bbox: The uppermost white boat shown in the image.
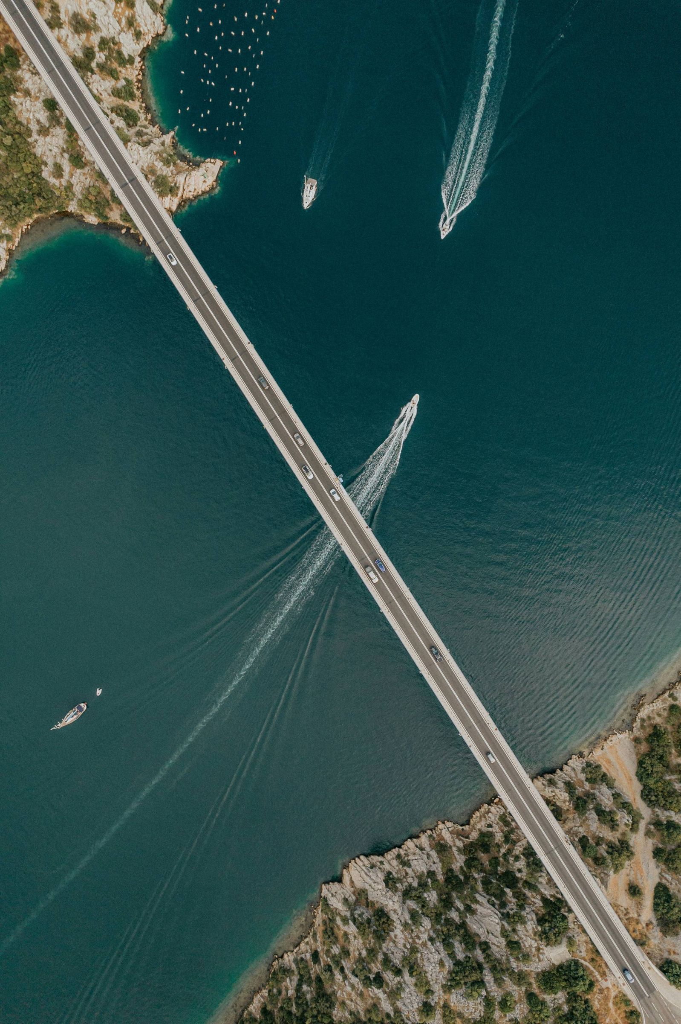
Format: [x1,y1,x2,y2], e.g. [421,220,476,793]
[303,172,316,208]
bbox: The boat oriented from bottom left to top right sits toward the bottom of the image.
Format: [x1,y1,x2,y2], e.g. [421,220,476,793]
[50,703,88,735]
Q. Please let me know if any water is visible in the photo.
Yes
